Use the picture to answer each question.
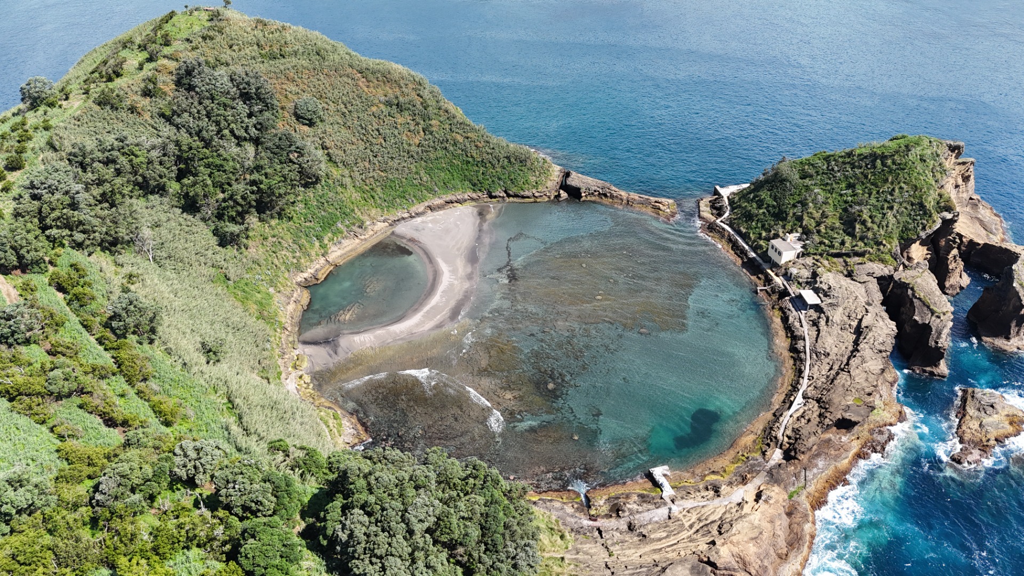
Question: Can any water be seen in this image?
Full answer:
Yes, there is water in the image.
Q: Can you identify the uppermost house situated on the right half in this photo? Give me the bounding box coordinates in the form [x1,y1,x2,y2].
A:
[767,231,805,265]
